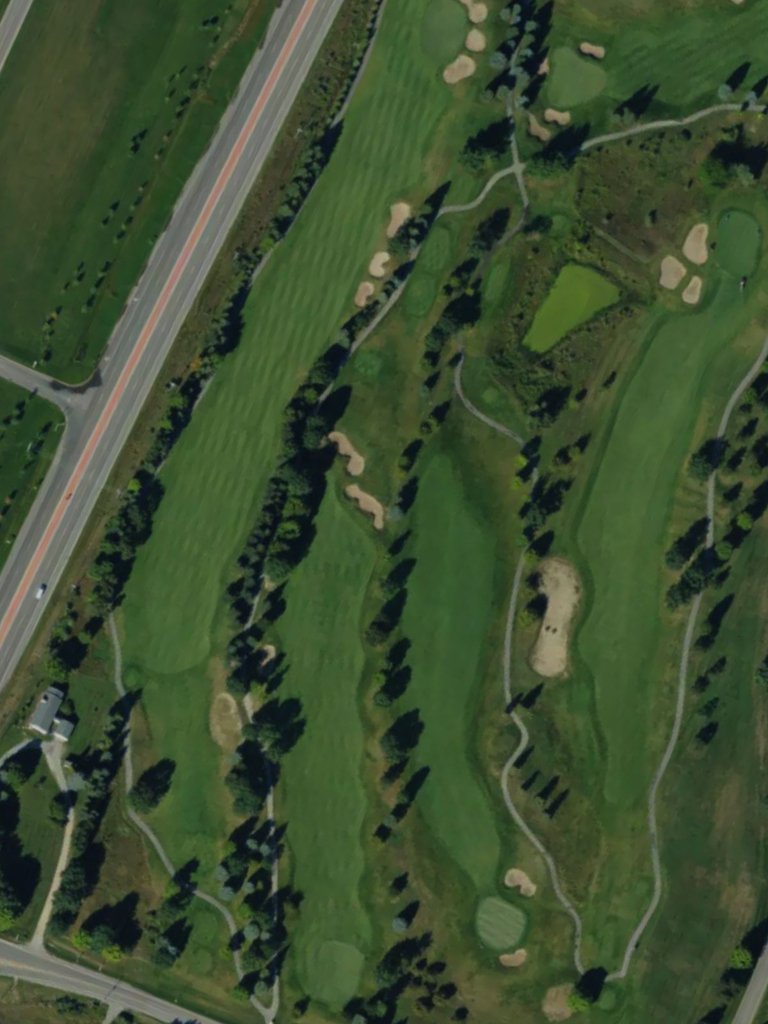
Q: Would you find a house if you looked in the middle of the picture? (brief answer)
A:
No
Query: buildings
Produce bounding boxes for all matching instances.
[55,717,74,739]
[31,687,66,734]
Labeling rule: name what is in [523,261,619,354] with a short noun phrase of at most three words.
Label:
pond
